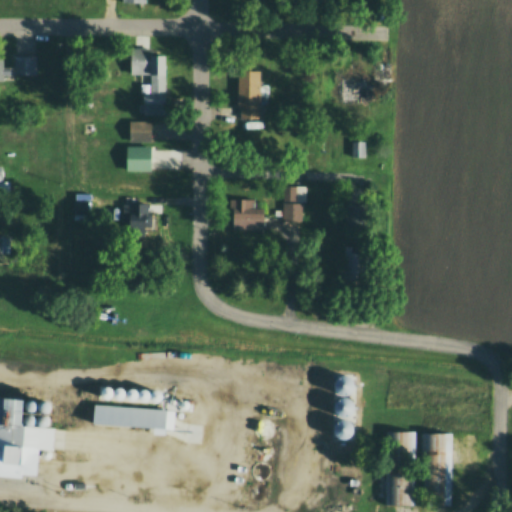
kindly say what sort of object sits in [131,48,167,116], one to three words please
house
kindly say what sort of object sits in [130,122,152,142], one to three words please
shed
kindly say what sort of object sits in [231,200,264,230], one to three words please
house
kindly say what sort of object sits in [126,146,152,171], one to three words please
building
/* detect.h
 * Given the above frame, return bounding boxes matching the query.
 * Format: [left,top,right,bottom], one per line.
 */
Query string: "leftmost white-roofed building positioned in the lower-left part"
[0,399,55,478]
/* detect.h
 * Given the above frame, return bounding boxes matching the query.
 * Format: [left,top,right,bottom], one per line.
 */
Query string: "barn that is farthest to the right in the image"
[421,433,454,509]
